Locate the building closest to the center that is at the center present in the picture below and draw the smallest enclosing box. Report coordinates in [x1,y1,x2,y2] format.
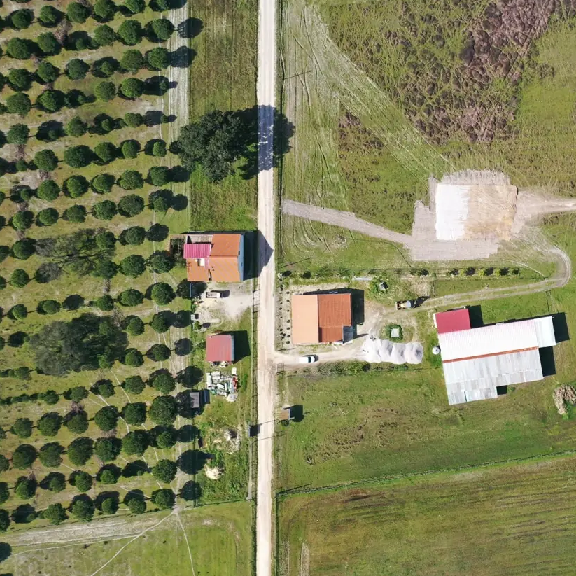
[292,292,353,345]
